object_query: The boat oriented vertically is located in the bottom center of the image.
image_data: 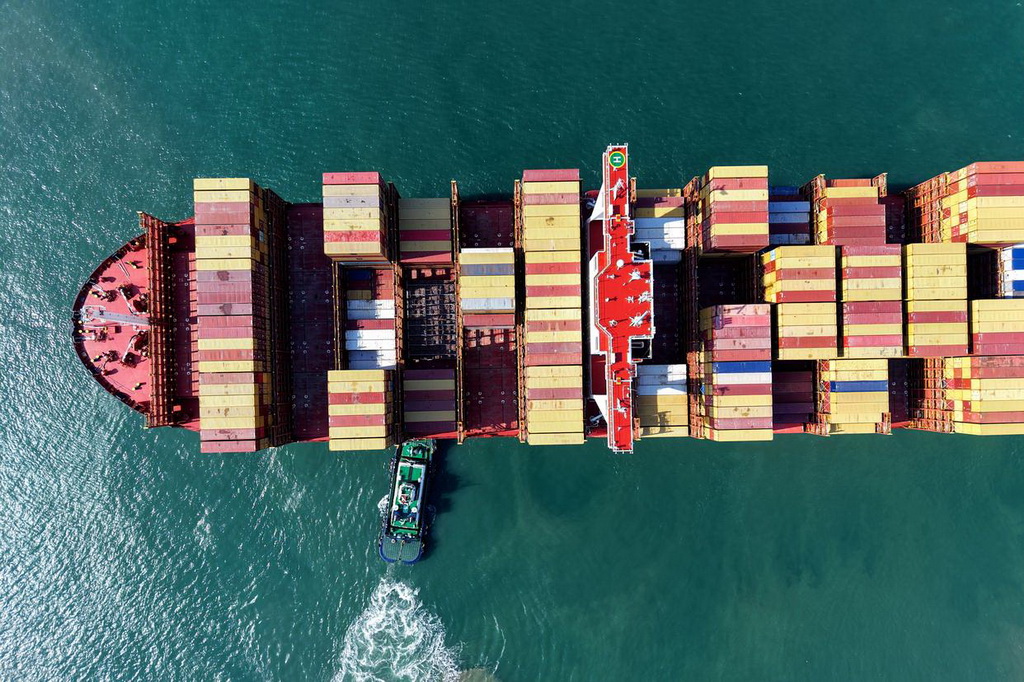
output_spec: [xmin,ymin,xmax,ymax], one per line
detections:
[379,440,437,564]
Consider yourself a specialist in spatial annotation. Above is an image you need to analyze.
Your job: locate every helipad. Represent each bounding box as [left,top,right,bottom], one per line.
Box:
[609,151,627,170]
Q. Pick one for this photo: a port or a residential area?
port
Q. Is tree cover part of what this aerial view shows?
No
